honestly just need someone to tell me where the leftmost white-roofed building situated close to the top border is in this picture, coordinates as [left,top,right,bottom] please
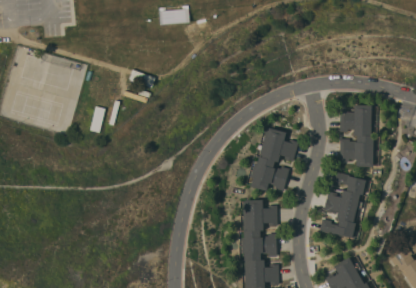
[160,6,190,26]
